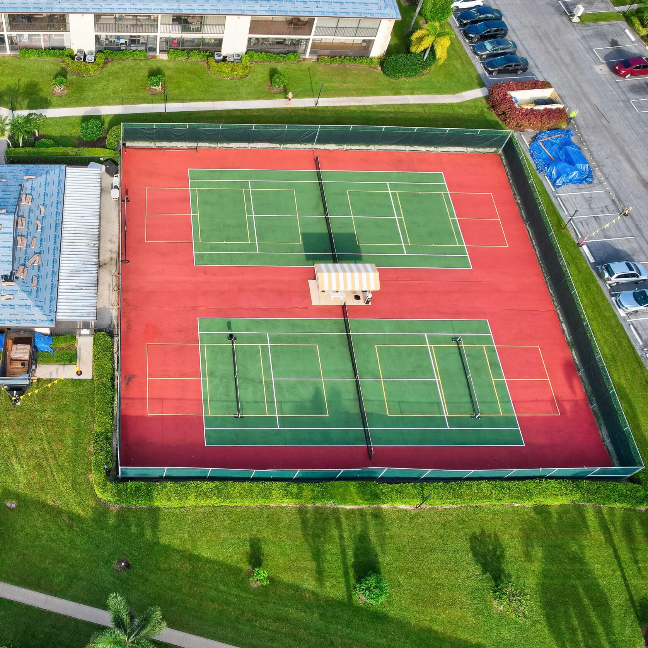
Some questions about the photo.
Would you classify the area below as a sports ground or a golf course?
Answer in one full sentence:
The picture captures a sports ground.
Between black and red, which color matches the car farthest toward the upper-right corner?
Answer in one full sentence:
In this view, the car farthest toward the upper-right corner is red.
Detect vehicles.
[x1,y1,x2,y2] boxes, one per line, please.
[463,16,510,43]
[471,35,520,59]
[614,56,648,78]
[460,7,508,27]
[597,258,648,287]
[616,289,648,315]
[447,0,486,11]
[481,53,532,75]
